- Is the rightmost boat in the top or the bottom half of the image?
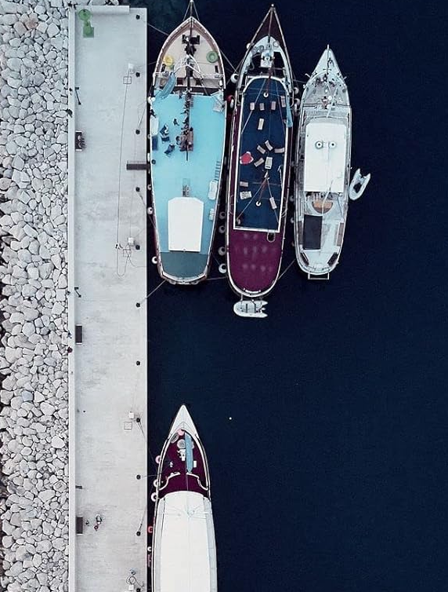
top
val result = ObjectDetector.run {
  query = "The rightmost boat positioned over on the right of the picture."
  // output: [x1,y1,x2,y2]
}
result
[350,168,373,200]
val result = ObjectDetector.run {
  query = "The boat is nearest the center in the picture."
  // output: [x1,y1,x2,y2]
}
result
[233,300,268,317]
